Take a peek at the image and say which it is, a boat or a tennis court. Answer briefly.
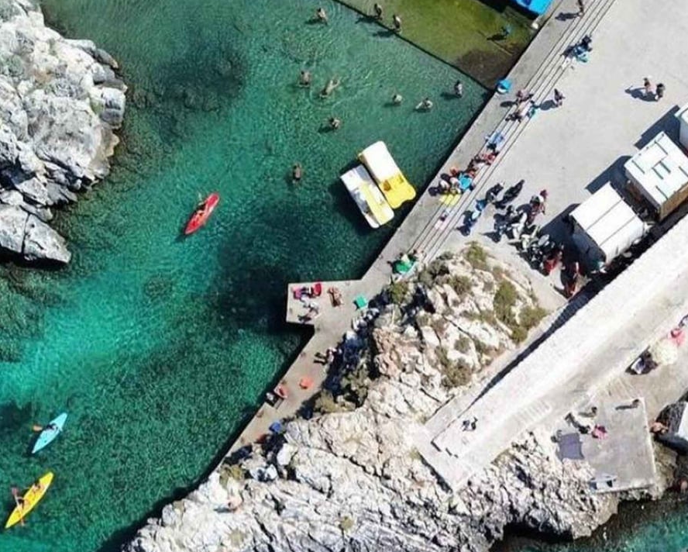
boat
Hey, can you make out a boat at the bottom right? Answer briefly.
No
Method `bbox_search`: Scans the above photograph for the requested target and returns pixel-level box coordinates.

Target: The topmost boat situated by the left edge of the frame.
[30,411,67,455]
